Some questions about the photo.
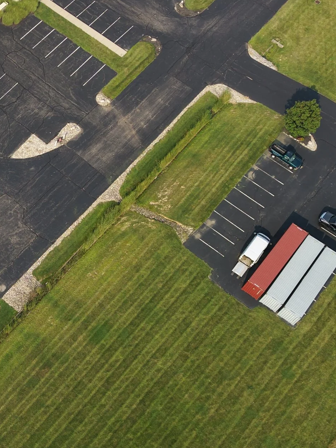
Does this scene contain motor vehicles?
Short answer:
Yes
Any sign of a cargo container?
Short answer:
Yes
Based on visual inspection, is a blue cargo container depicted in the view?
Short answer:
No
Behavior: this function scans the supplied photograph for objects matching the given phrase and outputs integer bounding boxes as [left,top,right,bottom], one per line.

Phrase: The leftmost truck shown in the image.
[234,233,271,281]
